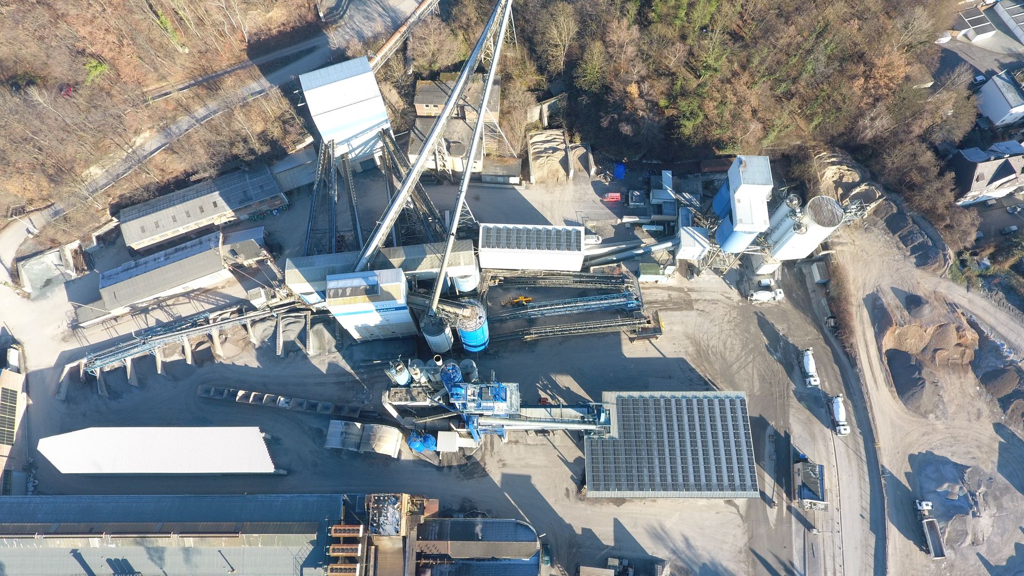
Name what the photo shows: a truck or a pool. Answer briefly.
truck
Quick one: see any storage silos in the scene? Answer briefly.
Yes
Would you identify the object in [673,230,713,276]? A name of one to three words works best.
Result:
house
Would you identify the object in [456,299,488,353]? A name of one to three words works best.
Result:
silo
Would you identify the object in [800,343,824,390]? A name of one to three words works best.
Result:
truck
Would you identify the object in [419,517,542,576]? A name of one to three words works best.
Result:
building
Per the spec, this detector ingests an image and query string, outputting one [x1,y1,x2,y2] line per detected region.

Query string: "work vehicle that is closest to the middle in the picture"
[497,294,528,309]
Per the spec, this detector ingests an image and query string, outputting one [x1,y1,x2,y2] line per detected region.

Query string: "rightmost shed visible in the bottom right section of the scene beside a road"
[794,461,831,509]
